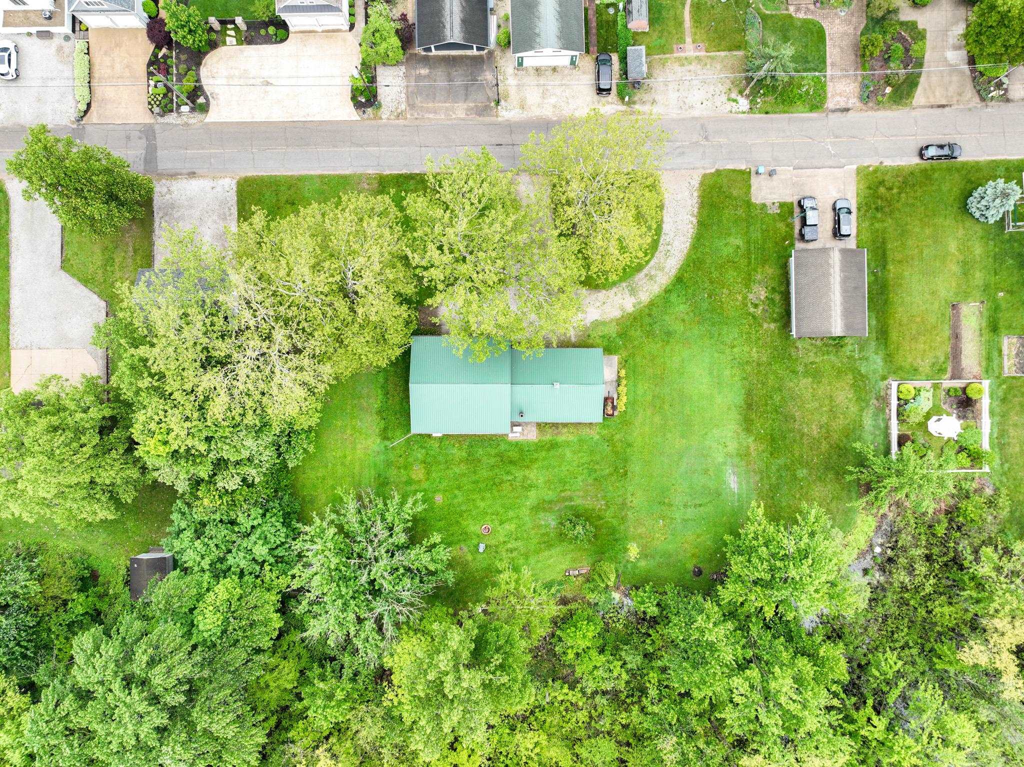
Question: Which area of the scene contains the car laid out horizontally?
top right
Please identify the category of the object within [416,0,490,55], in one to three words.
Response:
building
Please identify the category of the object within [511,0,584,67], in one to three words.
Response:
building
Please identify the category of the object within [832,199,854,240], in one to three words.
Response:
car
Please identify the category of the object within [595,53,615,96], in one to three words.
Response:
car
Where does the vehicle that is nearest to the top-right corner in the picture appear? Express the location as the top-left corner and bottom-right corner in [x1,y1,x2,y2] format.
[922,139,965,161]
